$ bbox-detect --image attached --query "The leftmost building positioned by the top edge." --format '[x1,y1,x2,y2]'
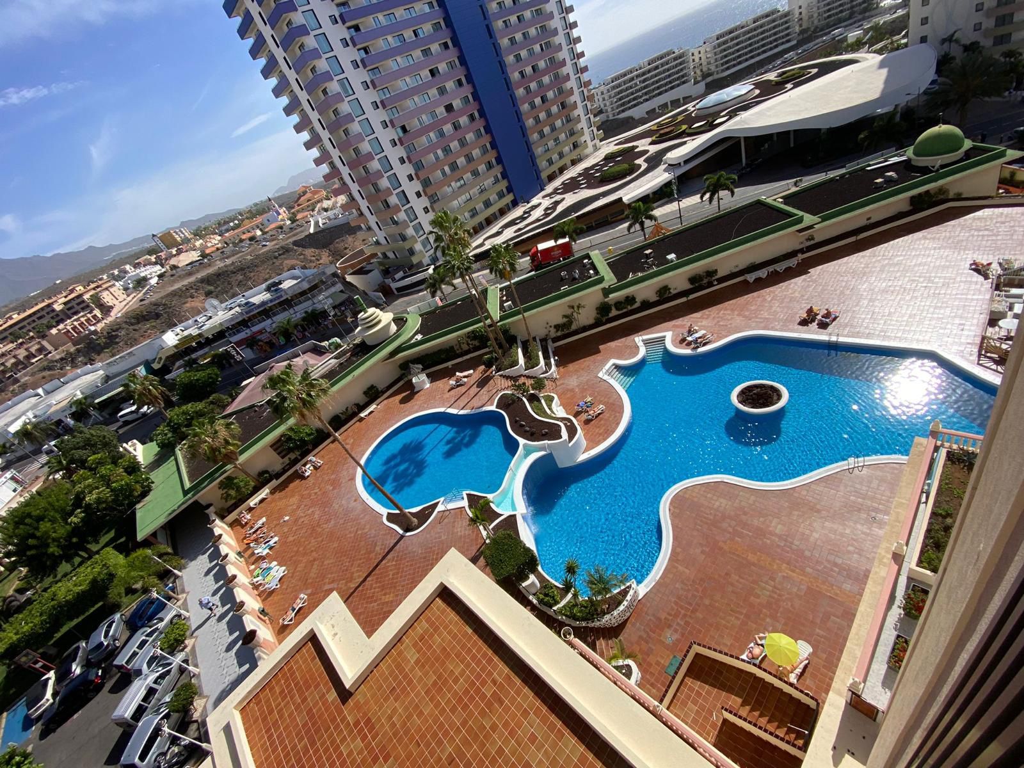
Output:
[225,0,609,272]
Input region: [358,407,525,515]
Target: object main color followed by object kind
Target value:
blue swimming pool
